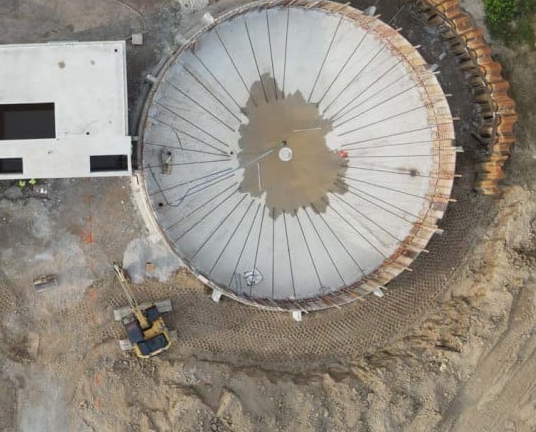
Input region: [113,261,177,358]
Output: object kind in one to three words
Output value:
work vehicle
